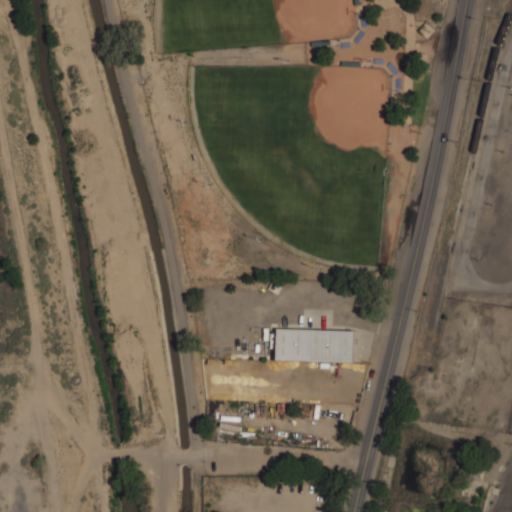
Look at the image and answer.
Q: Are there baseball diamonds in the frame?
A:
Yes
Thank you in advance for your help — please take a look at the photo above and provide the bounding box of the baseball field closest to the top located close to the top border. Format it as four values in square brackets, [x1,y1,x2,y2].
[157,0,357,53]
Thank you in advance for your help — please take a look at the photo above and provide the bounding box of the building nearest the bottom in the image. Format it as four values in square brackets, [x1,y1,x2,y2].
[275,330,354,362]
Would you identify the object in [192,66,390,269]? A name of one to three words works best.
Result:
baseball field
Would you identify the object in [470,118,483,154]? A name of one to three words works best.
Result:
rail car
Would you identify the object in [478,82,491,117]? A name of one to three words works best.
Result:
rail car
